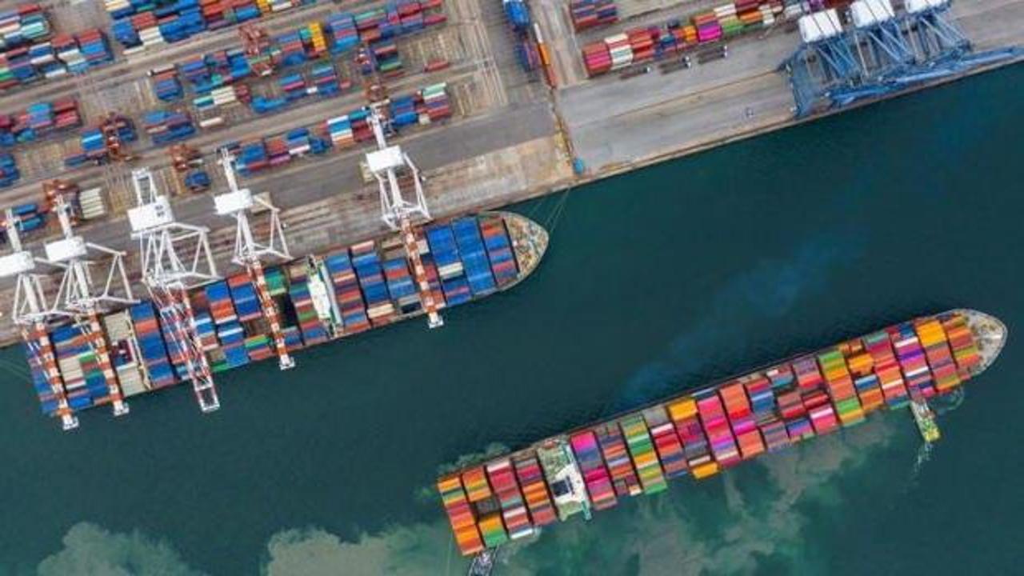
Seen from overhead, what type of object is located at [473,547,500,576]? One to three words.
boat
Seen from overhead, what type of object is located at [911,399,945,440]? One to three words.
boat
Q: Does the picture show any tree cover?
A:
No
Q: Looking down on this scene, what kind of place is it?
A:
port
